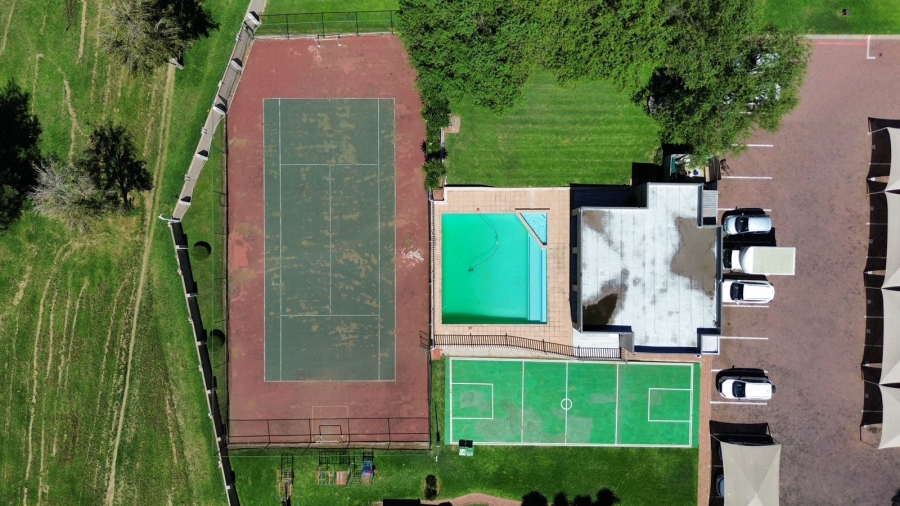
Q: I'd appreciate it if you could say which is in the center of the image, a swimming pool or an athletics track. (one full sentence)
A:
The feature located in the center of the image is a swimming pool.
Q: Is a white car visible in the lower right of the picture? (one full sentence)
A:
Yes, I can see a white car in the lower right of the picture.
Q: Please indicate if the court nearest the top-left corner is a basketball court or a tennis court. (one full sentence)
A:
In the photo, the court nearest the top-left corner shows up as a tennis court.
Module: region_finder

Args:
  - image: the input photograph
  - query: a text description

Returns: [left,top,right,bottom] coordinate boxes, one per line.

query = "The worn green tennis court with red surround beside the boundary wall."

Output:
[226,35,433,449]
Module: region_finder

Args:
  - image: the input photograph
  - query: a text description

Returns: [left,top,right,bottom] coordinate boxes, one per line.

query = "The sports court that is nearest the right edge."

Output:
[446,357,700,447]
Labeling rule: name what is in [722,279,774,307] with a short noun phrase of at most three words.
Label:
car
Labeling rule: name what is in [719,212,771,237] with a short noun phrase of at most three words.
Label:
car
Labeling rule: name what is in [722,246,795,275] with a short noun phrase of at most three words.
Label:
truck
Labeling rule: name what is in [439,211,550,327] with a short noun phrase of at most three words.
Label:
swimming pool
